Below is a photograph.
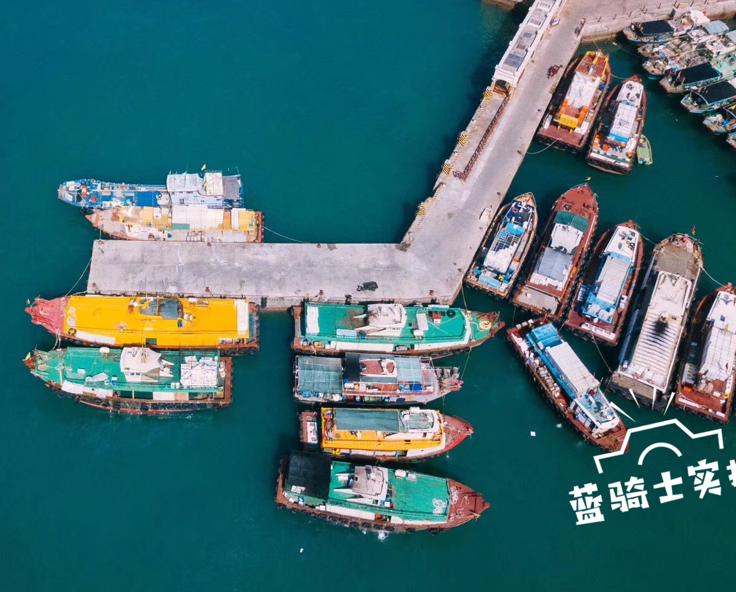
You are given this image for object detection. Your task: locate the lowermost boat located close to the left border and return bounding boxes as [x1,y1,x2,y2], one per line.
[20,338,236,411]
